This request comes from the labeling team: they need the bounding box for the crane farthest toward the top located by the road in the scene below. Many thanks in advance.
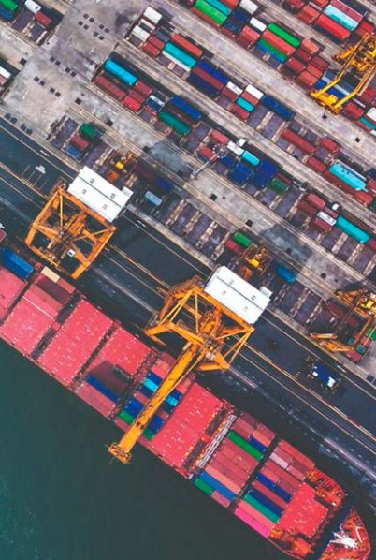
[308,35,376,117]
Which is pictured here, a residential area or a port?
port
